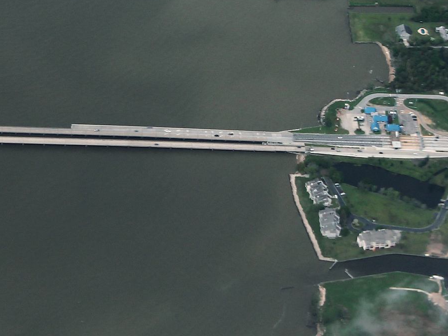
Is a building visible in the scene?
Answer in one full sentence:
Yes, there's a building here.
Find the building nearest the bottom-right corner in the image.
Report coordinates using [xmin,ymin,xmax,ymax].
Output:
[357,229,401,248]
